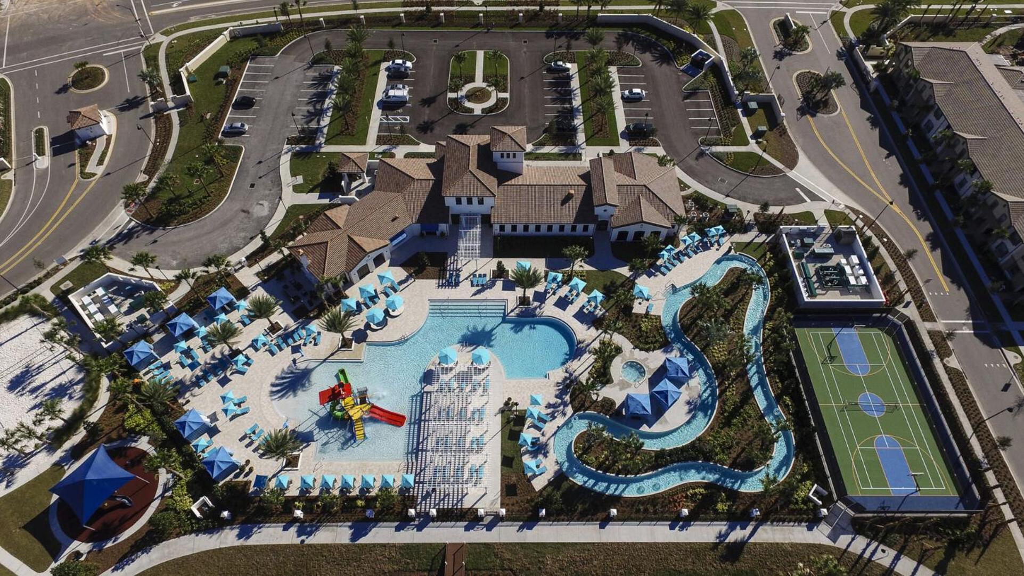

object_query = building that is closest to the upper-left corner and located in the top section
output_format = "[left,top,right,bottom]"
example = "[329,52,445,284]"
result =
[59,104,107,141]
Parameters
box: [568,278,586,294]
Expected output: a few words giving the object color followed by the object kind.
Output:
blue umbrella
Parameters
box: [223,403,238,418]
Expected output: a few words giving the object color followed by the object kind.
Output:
blue umbrella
